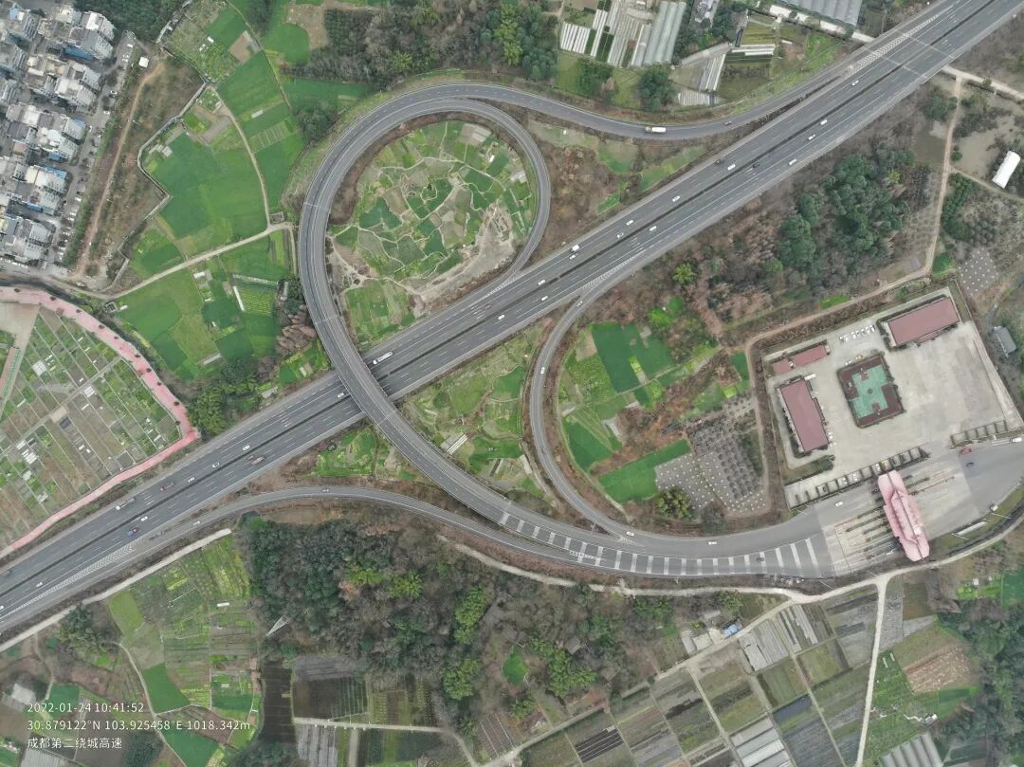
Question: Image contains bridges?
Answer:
Yes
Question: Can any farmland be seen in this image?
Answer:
Yes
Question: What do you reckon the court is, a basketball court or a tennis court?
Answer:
basketball court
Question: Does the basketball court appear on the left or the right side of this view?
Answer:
right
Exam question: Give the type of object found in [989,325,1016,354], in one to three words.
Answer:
shed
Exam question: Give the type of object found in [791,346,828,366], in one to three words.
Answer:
building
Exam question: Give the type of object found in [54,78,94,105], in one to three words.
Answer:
house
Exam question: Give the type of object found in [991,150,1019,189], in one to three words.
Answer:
greenhouse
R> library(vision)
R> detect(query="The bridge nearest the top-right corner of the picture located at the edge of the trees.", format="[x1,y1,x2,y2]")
[854,15,956,113]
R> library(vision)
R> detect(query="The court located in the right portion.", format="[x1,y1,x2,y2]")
[839,356,905,427]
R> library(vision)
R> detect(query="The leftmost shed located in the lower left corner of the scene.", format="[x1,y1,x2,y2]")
[9,683,37,703]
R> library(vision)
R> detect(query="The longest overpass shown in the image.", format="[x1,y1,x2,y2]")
[299,205,522,518]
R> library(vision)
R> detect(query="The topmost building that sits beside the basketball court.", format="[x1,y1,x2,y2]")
[880,298,959,347]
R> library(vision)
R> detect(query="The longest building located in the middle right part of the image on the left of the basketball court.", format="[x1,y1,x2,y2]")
[777,378,829,453]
